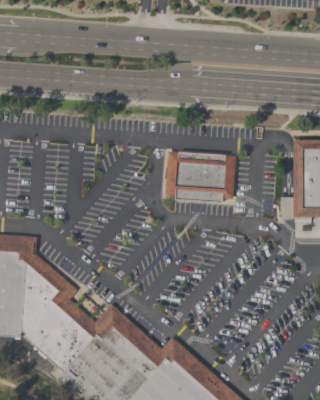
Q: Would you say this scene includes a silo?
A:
No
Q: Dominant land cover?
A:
paved ground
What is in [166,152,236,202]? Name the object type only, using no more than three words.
building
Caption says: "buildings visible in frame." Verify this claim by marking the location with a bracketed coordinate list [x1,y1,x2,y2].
[281,139,320,220]
[0,234,245,400]
[166,152,236,202]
